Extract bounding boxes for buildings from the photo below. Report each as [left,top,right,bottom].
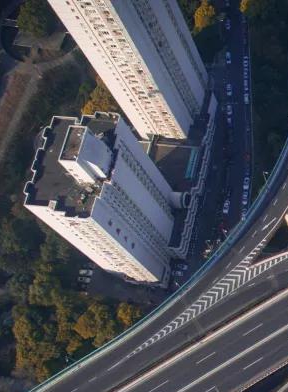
[43,0,213,143]
[24,112,176,278]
